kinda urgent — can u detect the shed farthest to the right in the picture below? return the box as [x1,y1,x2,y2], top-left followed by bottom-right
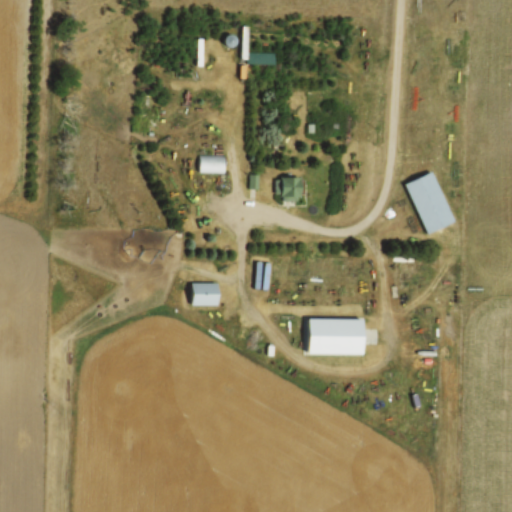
[404,174,454,234]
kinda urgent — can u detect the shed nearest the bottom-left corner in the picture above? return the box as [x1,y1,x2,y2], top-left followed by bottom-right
[190,283,220,306]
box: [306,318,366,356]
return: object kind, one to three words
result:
barn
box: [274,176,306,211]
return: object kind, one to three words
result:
house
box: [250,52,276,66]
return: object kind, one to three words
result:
shed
